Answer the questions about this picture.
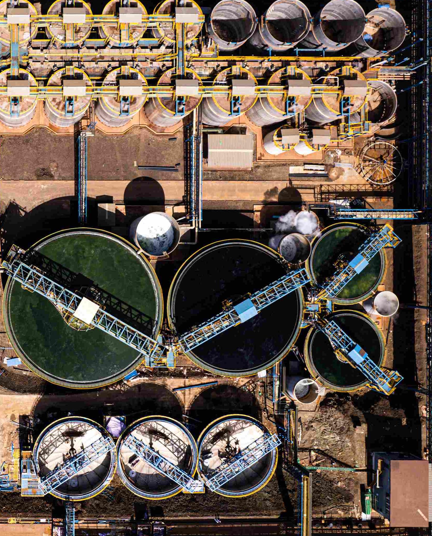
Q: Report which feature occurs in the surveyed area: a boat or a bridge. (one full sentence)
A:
Visible in the photo is a bridge.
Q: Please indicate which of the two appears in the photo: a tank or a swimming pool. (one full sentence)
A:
I can see a tank in this picture.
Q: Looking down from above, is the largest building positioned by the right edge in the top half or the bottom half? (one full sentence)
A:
It is in the bottom half that the largest building positioned by the right edge appears.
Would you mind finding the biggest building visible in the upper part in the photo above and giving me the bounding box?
[203,135,255,169]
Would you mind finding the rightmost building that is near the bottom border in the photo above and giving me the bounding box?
[364,447,425,527]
